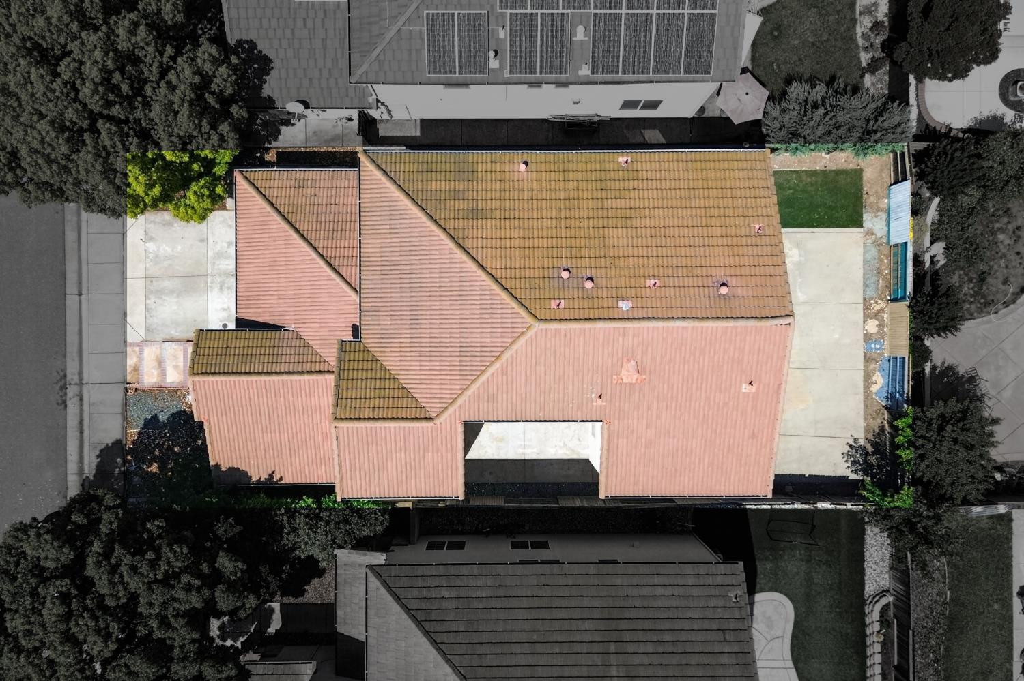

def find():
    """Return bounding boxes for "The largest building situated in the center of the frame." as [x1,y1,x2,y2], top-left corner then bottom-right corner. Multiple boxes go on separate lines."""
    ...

[186,144,797,501]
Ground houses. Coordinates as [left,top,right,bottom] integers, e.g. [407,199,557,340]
[186,144,797,501]
[221,0,744,119]
[247,535,757,681]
